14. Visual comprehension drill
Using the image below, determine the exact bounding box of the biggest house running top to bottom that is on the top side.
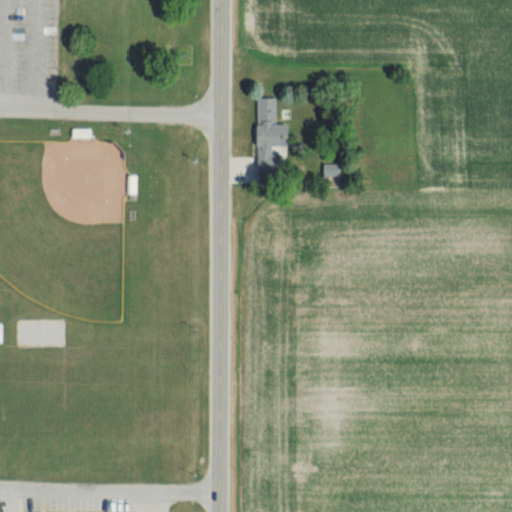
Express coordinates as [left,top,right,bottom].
[256,98,288,168]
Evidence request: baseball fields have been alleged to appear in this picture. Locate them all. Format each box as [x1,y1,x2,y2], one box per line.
[0,140,124,322]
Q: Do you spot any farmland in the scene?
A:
Yes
